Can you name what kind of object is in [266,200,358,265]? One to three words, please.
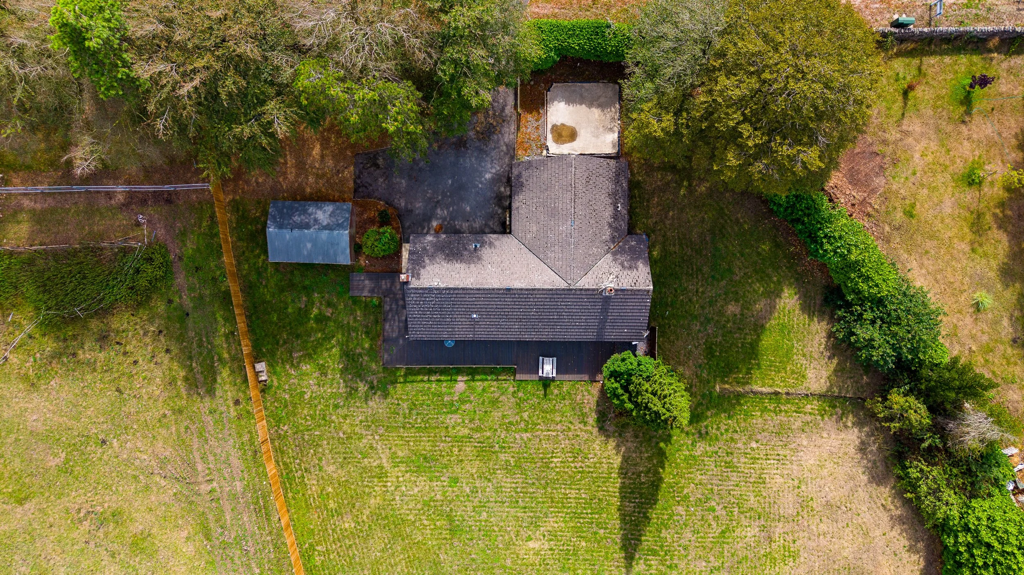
shed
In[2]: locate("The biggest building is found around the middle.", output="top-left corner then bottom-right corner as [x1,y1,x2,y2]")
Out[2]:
[399,154,654,342]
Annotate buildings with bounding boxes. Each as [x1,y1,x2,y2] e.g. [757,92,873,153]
[266,200,358,265]
[399,154,654,342]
